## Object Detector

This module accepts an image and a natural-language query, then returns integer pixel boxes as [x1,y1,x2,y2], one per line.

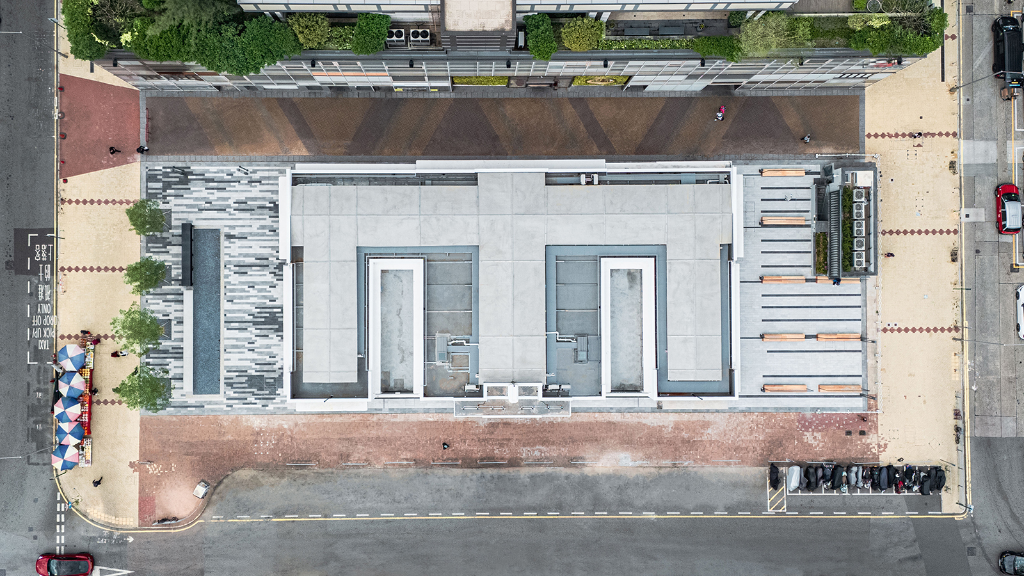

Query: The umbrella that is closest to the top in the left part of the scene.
[55,344,84,371]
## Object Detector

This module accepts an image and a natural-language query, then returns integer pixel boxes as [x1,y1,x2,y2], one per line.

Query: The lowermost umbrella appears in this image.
[50,446,79,473]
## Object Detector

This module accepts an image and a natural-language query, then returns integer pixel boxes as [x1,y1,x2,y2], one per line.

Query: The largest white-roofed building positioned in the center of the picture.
[279,160,743,418]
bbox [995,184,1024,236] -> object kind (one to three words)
car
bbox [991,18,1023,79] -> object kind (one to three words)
van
